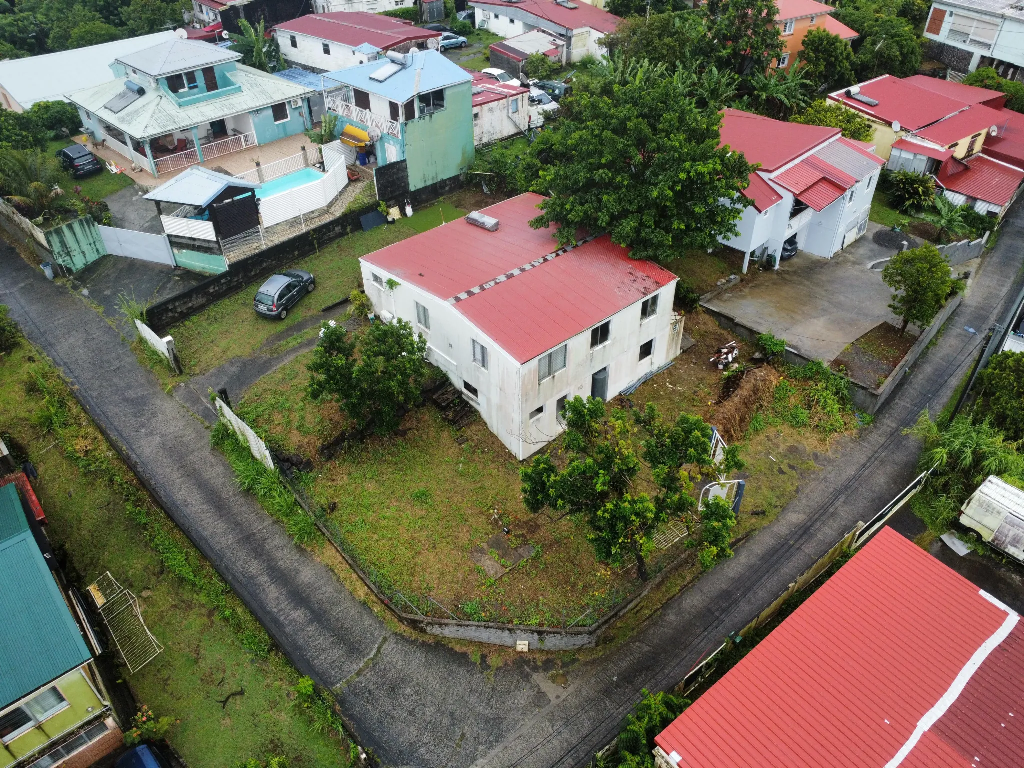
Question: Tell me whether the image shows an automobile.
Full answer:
Yes, you can see an automobile in this photo.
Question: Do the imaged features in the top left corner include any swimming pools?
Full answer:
Yes, you'll find a swimming pool in the top left corner.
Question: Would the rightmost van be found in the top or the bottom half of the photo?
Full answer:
The bottom half of the photo is where the rightmost van is.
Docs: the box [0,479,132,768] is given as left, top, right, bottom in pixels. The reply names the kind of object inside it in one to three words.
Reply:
house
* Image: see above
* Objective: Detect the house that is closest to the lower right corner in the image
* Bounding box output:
[654,525,1024,768]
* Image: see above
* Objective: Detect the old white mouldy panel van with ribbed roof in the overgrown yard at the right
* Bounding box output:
[952,468,1024,567]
